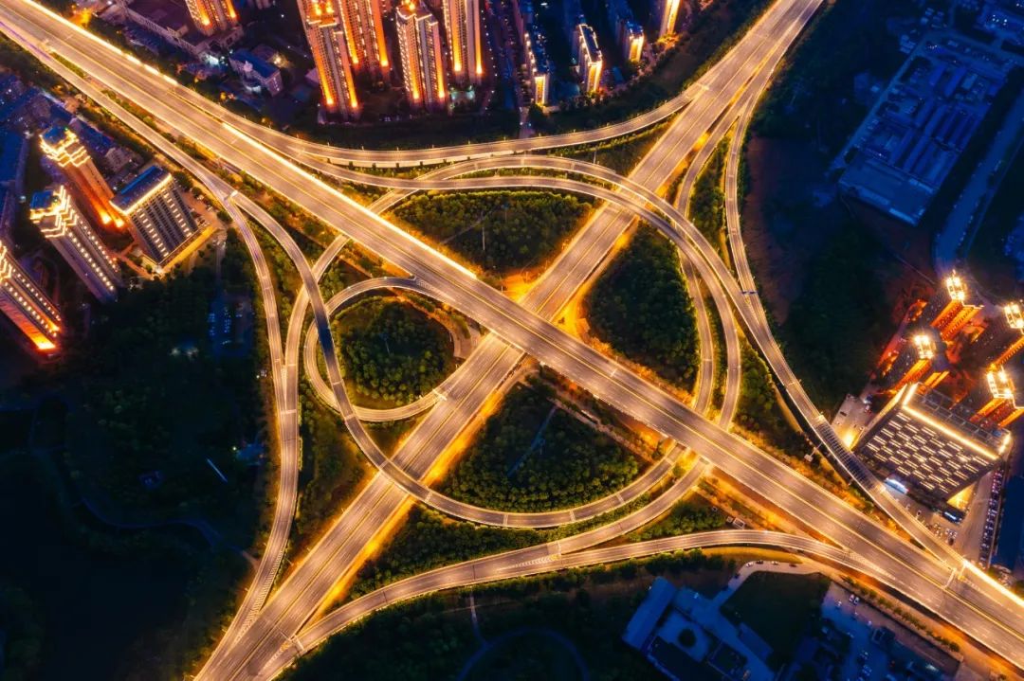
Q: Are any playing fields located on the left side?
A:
No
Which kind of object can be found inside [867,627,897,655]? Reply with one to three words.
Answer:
building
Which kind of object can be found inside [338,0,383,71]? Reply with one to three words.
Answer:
building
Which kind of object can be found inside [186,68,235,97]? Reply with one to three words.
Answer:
shed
